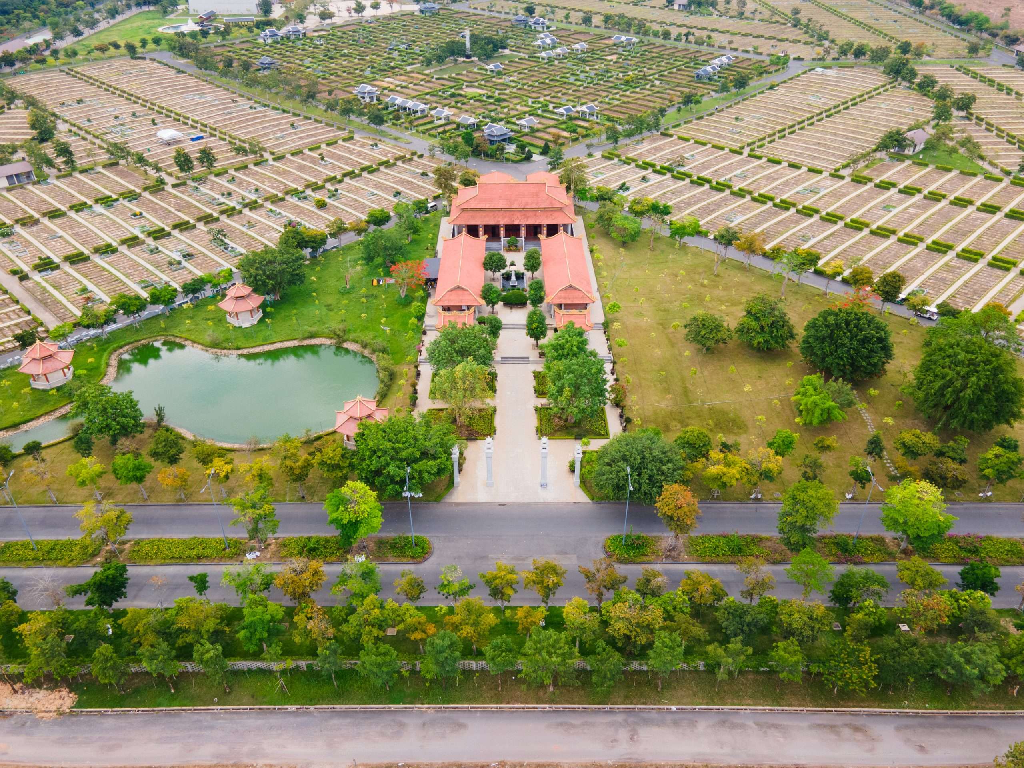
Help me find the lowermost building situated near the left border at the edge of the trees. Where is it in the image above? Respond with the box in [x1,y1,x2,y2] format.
[10,334,78,385]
